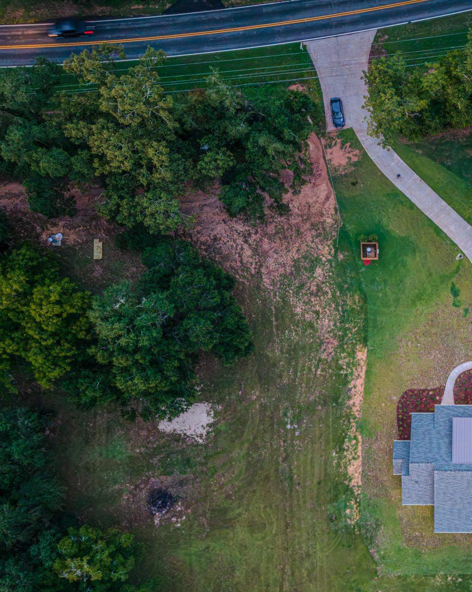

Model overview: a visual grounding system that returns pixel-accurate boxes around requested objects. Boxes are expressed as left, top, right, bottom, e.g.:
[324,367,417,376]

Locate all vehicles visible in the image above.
[53,21,91,37]
[331,96,346,129]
